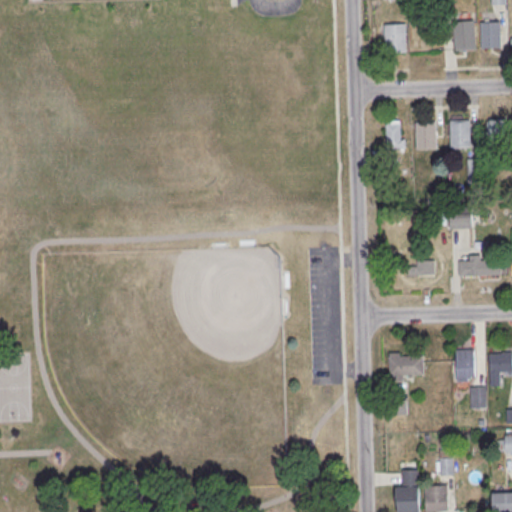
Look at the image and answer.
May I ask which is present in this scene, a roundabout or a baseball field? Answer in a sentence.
The one in the frame is a baseball field.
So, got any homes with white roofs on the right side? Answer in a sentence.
Yes, a home with a white roof can be seen on the right side.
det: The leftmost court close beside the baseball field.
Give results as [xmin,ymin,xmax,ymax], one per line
[0,352,32,422]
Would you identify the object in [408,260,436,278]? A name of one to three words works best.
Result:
house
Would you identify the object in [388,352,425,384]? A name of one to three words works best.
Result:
house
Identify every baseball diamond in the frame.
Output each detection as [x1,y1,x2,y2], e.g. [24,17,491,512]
[42,247,286,487]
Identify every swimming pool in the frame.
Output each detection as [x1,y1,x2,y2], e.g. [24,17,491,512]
[468,470,484,486]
